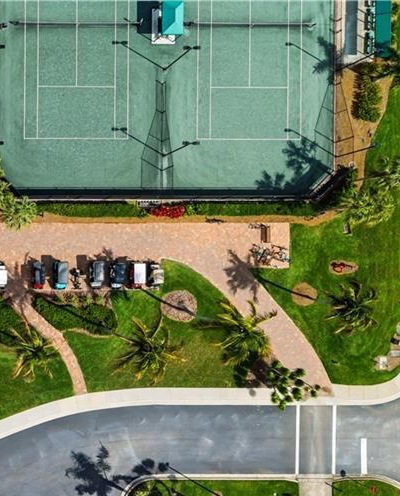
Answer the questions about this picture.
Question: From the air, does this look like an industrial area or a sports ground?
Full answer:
The area seen from above is a sports ground.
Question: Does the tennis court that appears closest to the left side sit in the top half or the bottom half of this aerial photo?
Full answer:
The top half of the photo is where the tennis court that appears closest to the left side is.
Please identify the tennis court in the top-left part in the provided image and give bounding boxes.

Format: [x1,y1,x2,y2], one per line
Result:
[0,0,163,195]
